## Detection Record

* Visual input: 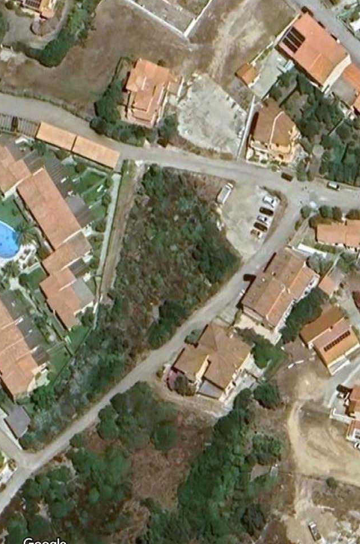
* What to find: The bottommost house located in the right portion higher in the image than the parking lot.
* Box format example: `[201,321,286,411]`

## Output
[247,102,299,162]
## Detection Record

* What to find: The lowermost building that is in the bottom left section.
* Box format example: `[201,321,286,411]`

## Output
[3,404,31,438]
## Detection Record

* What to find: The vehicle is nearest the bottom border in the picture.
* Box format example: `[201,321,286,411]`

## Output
[308,523,320,542]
